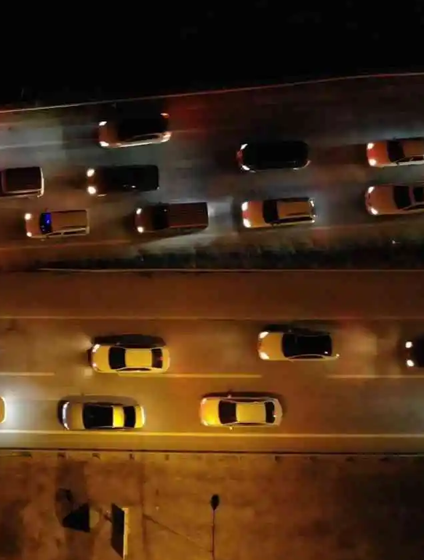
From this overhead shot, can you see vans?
Yes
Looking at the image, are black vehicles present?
Yes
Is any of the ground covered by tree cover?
No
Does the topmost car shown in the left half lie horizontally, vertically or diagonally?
horizontally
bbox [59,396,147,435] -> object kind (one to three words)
car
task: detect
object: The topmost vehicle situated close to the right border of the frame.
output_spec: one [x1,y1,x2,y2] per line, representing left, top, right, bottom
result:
[365,132,424,170]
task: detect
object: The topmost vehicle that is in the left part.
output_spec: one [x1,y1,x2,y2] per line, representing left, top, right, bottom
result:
[98,112,175,151]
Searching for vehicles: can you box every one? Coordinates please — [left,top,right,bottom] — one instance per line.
[59,396,147,435]
[86,158,158,197]
[240,193,317,229]
[235,136,310,173]
[98,112,175,151]
[0,161,47,199]
[365,132,424,170]
[91,338,174,377]
[361,178,424,217]
[401,335,424,367]
[199,391,286,431]
[134,198,207,234]
[256,325,344,363]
